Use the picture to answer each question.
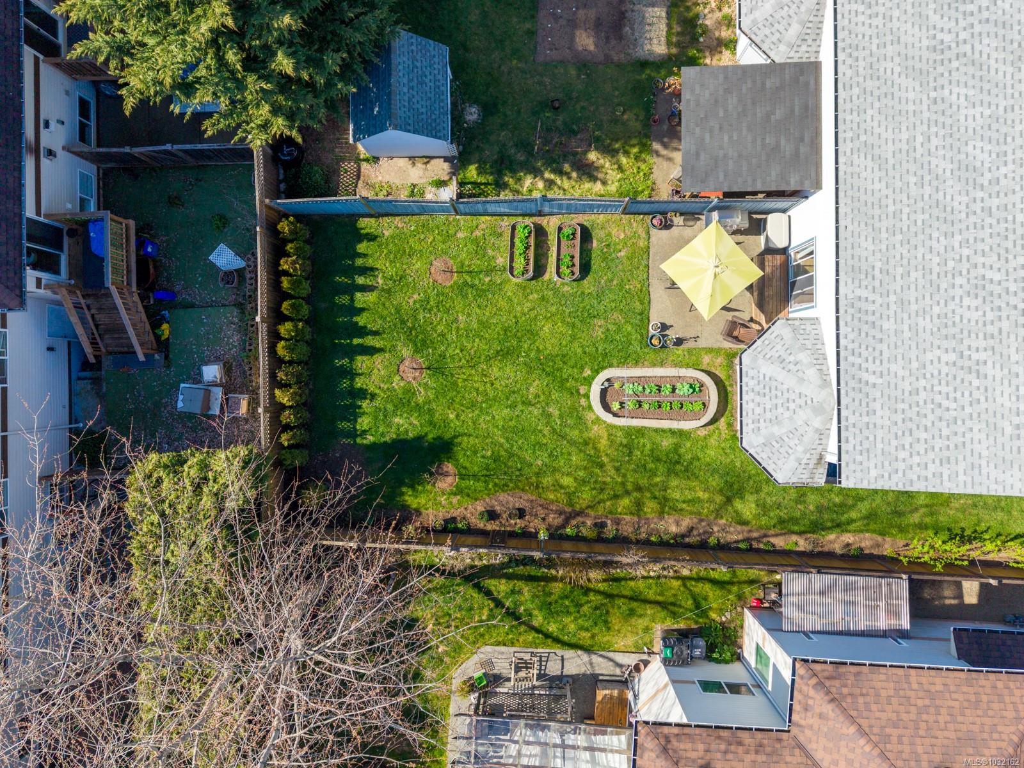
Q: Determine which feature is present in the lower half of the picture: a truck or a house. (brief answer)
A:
house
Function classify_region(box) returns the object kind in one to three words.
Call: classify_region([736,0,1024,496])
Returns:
house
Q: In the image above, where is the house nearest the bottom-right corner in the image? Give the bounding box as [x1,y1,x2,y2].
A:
[627,608,1024,768]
